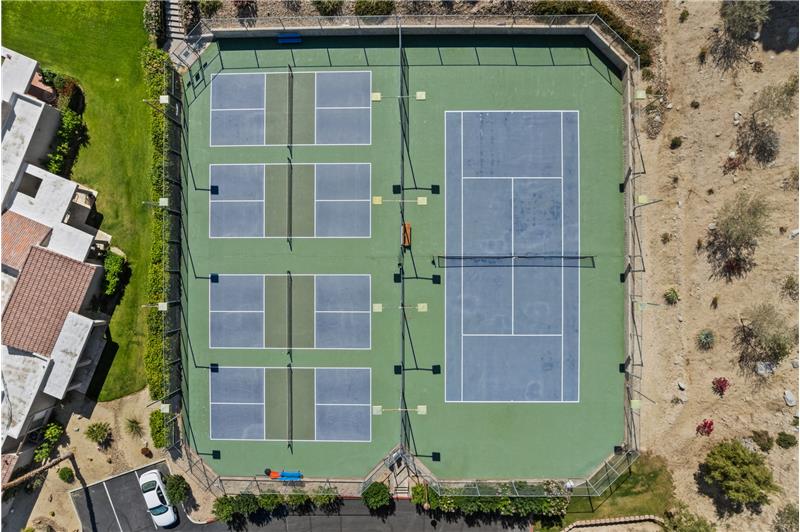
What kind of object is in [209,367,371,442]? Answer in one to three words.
sports court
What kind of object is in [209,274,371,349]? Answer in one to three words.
sports court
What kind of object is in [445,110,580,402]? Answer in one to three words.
tennis court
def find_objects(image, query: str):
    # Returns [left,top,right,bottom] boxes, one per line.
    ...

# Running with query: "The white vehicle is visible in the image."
[140,470,178,529]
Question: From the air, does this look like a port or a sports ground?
sports ground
